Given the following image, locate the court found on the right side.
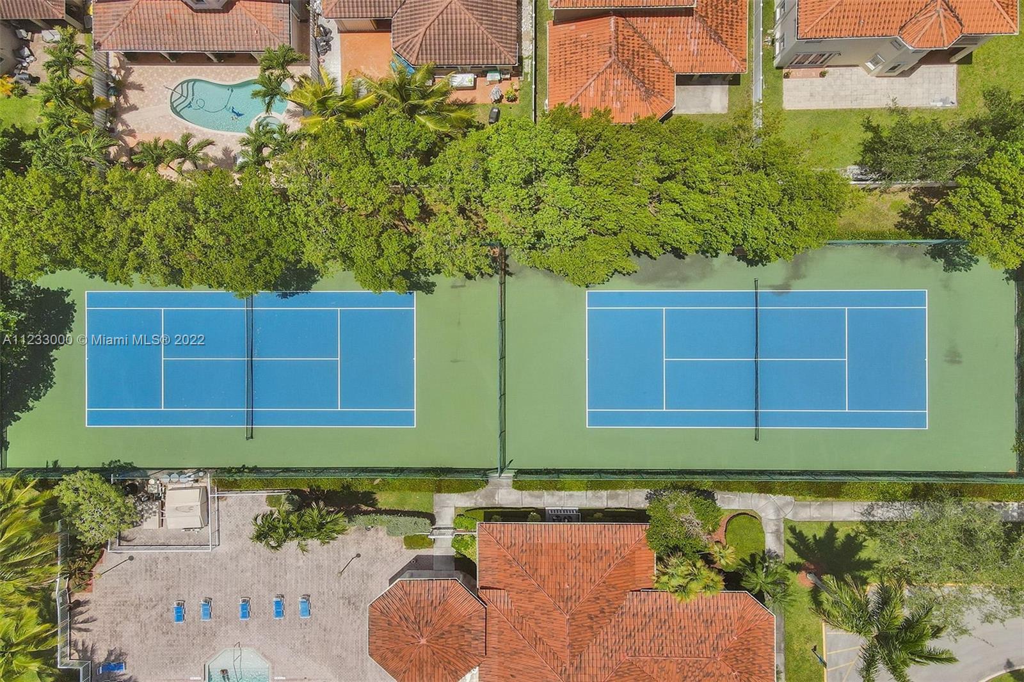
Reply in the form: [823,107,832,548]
[502,243,1017,474]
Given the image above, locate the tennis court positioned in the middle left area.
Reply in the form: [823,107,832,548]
[6,246,501,471]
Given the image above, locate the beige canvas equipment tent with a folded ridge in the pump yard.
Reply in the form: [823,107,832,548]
[156,488,206,531]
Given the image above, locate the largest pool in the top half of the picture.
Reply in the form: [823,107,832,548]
[167,74,293,136]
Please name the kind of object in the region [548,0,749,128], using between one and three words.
house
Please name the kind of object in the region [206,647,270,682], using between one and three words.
swimming pool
